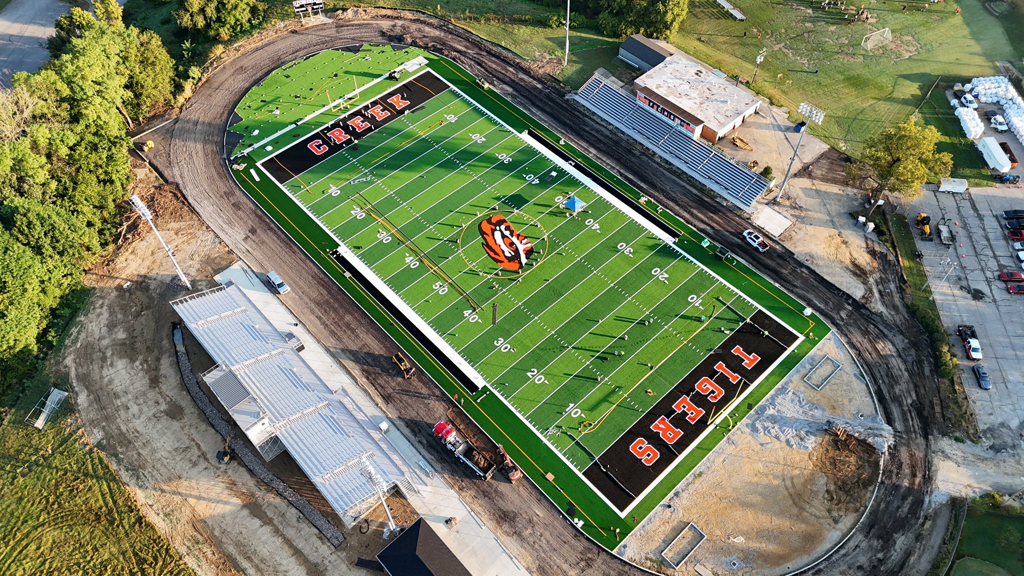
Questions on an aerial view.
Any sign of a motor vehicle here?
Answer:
Yes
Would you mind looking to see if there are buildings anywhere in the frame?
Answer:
Yes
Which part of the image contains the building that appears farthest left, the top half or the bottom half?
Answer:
bottom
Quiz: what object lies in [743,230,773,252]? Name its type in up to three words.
vehicle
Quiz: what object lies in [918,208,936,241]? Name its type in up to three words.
work vehicle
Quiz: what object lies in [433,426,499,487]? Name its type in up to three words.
truck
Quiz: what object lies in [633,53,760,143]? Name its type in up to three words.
building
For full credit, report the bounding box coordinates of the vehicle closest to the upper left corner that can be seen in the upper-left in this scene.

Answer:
[138,137,153,150]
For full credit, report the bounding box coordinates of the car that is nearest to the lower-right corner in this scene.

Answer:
[973,366,994,391]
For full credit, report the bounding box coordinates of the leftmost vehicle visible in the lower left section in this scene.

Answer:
[216,437,237,471]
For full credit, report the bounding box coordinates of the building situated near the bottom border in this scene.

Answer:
[375,517,473,576]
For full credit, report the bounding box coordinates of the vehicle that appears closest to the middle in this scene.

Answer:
[390,351,417,382]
